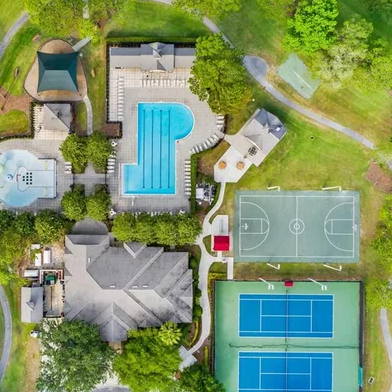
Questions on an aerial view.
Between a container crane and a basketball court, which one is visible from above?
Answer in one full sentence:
I can see a basketball court in this picture.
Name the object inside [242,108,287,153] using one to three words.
building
